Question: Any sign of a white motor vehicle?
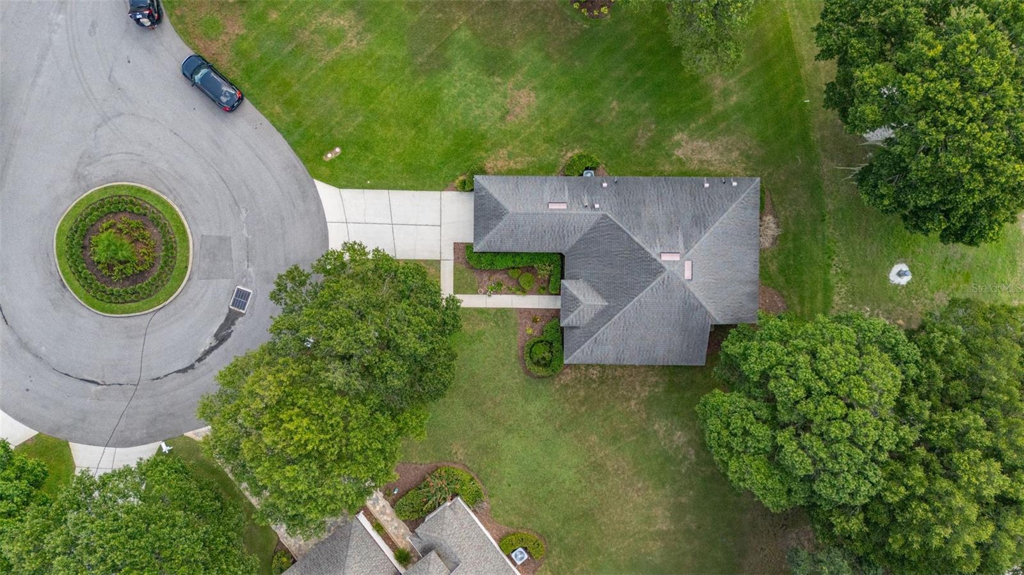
No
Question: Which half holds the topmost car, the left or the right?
left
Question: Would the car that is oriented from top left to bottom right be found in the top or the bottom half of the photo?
top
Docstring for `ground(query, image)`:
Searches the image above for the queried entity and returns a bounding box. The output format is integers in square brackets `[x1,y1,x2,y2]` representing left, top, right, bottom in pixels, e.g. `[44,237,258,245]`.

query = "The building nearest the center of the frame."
[472,174,761,366]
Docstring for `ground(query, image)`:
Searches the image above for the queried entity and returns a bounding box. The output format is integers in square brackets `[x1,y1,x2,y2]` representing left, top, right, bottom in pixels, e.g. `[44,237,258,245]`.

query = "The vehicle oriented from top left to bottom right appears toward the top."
[180,52,246,115]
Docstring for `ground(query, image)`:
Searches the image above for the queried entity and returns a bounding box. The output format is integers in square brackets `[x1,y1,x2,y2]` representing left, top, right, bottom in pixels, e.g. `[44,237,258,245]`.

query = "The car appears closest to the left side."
[133,0,170,22]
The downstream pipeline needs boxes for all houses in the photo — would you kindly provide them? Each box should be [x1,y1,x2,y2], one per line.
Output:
[472,174,761,366]
[280,495,527,575]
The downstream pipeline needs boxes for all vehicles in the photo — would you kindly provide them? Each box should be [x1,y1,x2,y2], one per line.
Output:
[133,0,170,22]
[180,52,246,115]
